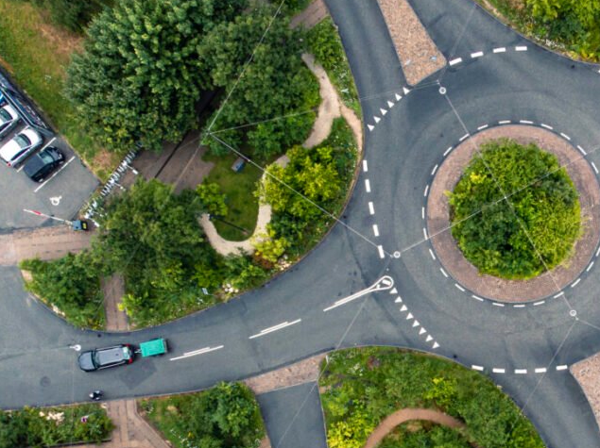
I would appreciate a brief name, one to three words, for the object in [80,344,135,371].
car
